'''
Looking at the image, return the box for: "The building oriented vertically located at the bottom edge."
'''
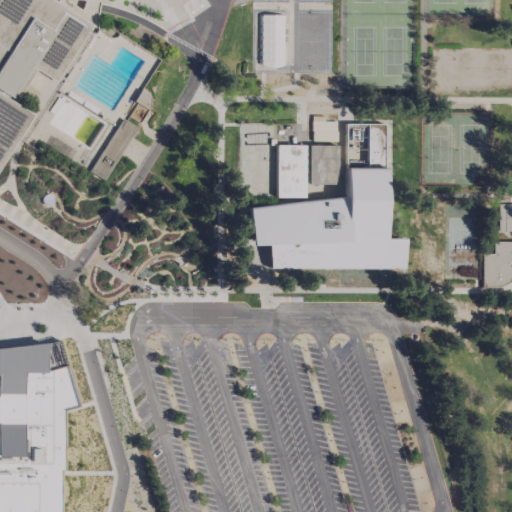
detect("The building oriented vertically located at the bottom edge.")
[0,342,80,512]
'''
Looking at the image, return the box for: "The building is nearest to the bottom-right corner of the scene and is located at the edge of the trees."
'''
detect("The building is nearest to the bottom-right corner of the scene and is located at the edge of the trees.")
[483,242,512,288]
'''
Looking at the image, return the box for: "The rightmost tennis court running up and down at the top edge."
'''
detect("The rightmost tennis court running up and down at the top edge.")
[380,14,414,86]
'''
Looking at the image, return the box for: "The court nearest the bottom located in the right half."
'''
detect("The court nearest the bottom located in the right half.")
[446,204,479,277]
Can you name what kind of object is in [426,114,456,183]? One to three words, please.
tennis court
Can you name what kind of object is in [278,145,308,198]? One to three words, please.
building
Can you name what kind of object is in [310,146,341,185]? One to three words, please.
building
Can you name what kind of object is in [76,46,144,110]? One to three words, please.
swimming pool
